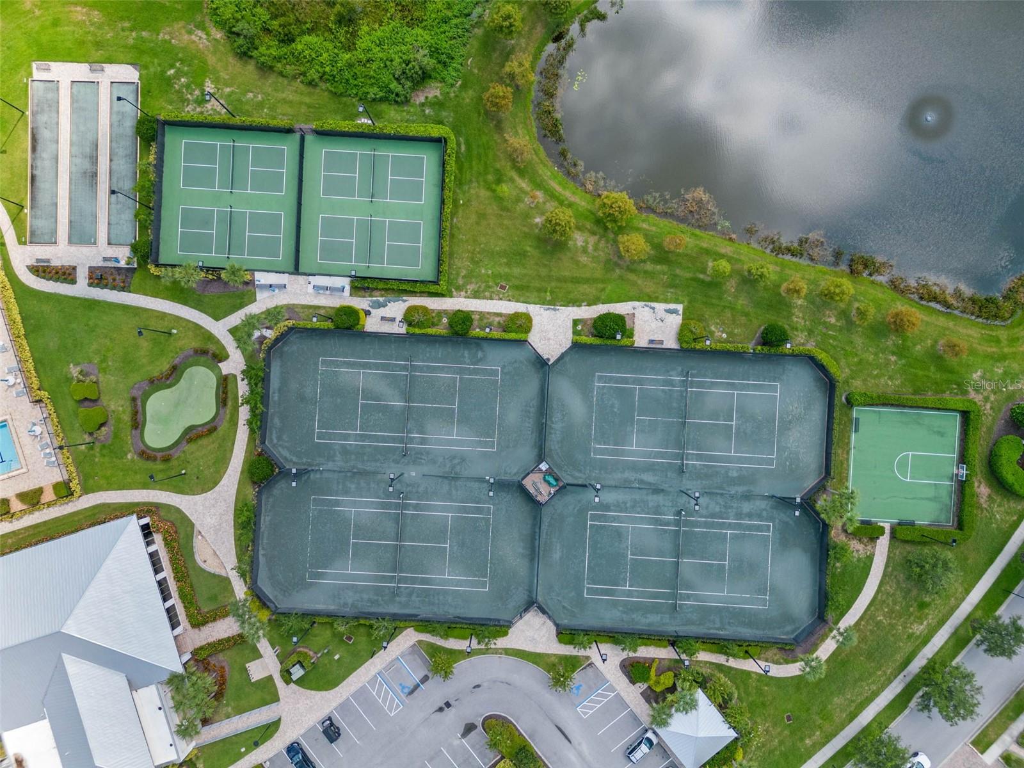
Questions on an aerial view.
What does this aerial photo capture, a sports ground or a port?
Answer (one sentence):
The area seen from above is a sports ground.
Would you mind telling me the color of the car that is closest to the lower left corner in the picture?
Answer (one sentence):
From above, the car that is closest to the lower left corner appears blue.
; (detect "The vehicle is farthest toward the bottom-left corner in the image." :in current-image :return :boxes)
[287,743,317,768]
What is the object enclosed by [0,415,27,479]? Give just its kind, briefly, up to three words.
swimming pool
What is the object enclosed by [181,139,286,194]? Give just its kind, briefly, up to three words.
sports court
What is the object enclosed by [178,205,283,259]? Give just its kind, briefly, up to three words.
sports court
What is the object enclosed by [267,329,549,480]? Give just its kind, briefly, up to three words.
tennis court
